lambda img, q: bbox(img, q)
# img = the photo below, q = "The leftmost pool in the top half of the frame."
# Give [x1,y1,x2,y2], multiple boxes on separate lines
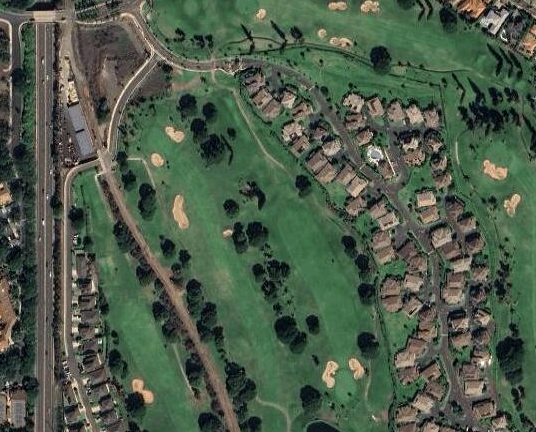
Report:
[367,146,383,161]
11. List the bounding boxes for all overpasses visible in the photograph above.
[4,6,88,20]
